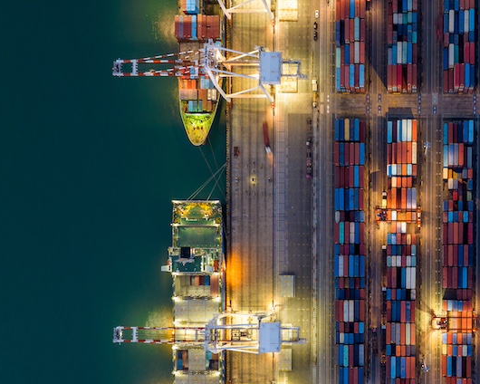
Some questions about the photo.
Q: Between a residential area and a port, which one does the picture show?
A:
port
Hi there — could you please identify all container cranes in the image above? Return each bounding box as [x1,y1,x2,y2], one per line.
[113,44,307,108]
[375,206,424,229]
[216,0,274,27]
[432,312,480,333]
[113,310,307,355]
